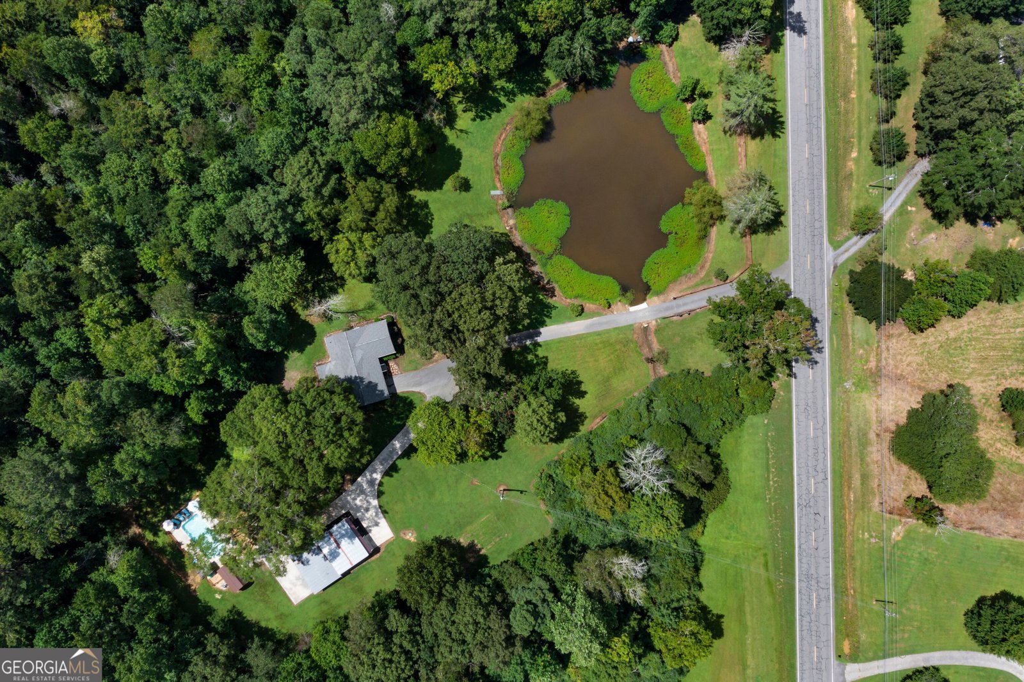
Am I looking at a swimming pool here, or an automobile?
swimming pool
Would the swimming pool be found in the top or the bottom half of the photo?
bottom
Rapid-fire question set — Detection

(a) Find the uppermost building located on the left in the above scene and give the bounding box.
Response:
[316,319,396,406]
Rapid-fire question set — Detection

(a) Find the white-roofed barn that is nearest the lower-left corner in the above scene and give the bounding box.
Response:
[291,512,373,594]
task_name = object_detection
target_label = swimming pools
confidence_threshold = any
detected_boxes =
[182,514,214,543]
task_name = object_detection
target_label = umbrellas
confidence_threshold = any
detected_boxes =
[188,500,200,512]
[163,519,175,531]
